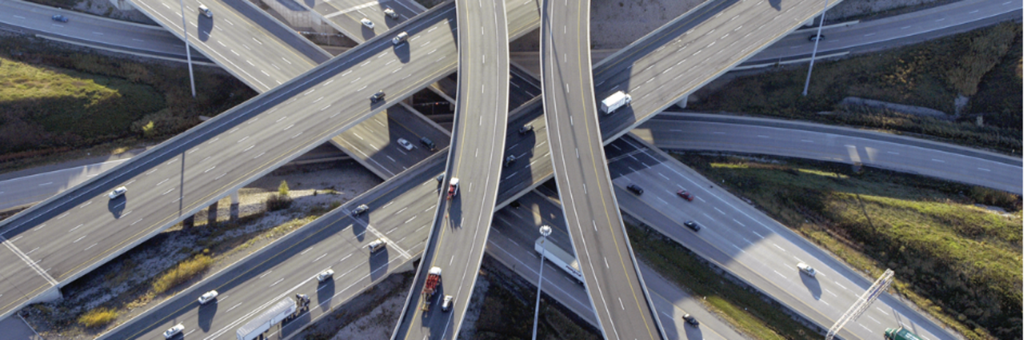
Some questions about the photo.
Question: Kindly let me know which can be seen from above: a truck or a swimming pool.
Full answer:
It is a truck that can be seen here.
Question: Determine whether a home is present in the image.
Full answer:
No, the scene contains no home.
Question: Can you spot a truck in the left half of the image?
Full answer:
Yes, a truck shows up in the left half of the image.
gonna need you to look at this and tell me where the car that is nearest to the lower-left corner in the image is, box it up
[164,324,186,339]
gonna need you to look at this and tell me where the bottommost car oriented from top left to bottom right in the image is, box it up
[680,314,700,329]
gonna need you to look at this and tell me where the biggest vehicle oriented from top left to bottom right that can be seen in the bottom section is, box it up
[533,238,584,288]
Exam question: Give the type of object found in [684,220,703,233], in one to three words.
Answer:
vehicle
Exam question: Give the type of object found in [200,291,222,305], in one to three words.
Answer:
car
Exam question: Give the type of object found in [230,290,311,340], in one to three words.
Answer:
truck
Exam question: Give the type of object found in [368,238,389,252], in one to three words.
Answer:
vehicle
